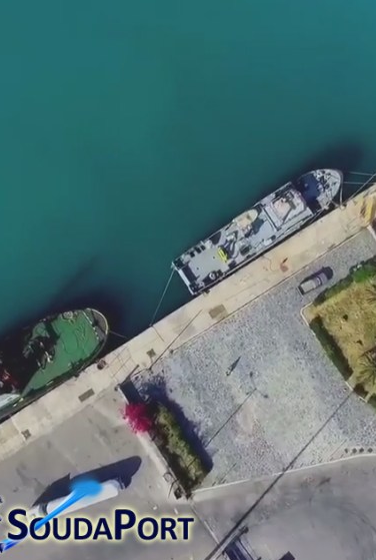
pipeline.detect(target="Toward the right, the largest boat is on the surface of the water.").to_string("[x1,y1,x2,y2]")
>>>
[171,165,343,295]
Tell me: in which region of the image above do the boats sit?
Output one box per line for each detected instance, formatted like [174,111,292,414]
[231,209,257,227]
[0,306,113,424]
[171,165,343,295]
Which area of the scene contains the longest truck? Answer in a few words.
bottom left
